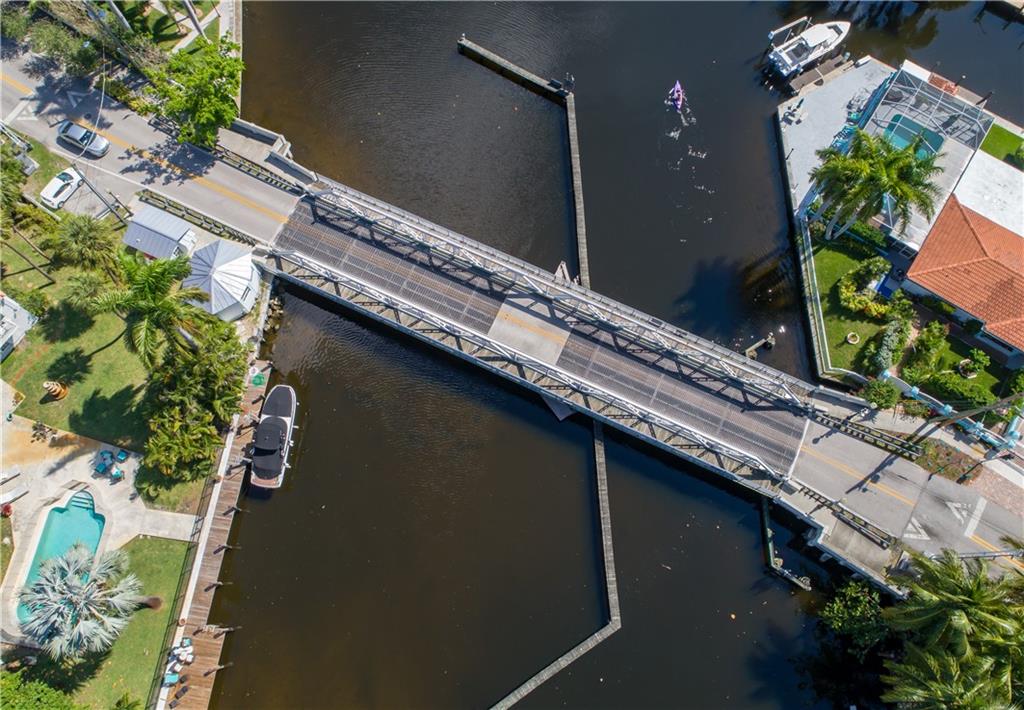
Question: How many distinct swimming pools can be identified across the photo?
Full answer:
In total, there are 2 swimming pools in the scene.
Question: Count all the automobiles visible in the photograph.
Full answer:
The count of automobiles comes to 2.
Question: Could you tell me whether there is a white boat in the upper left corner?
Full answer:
No, no white boat appears in the upper left corner.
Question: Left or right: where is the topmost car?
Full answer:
It is on the left.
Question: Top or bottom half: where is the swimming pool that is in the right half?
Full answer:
Seen from above, the swimming pool that is in the right half lies in the top half of the view.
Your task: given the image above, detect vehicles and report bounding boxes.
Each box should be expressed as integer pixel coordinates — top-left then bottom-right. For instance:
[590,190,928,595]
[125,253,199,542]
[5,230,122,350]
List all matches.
[56,123,110,157]
[37,170,87,208]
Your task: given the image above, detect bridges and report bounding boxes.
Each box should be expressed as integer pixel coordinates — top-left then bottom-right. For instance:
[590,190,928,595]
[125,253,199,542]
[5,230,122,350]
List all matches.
[253,168,879,519]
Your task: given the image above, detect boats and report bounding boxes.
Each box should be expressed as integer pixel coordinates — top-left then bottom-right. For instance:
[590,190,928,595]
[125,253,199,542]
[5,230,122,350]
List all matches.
[767,22,850,82]
[675,80,682,110]
[247,385,297,487]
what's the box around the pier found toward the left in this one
[160,357,274,710]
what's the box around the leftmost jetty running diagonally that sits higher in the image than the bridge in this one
[790,51,851,96]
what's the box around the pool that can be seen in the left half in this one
[14,489,107,628]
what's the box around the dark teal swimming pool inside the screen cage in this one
[882,112,946,161]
